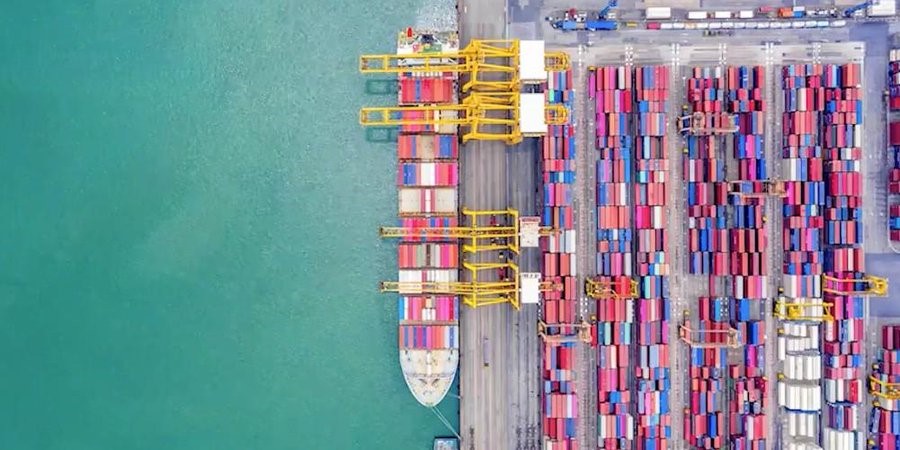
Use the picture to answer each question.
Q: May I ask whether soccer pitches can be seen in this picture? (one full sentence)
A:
No, there appears to be no soccer pitch in this shot.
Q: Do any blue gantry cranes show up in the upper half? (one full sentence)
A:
No, I can find no blue gantry crane in the upper half.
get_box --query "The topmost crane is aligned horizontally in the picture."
[359,40,572,95]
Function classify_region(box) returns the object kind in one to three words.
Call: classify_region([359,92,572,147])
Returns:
container crane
